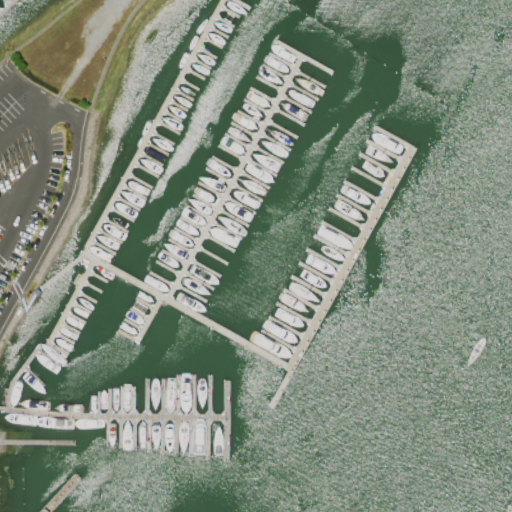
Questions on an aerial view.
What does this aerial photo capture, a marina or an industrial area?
marina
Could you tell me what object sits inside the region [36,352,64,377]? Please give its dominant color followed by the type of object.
white boat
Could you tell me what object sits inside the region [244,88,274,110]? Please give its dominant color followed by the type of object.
white boat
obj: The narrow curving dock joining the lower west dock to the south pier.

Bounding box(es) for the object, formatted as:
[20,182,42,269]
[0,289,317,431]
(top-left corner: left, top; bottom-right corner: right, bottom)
[4,336,50,406]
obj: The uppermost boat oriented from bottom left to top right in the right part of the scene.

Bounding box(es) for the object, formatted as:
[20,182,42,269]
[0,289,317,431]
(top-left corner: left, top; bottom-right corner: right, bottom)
[468,336,489,366]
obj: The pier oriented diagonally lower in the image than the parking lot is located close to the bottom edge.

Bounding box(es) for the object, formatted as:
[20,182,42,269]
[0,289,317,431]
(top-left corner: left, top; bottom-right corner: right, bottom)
[40,474,81,512]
